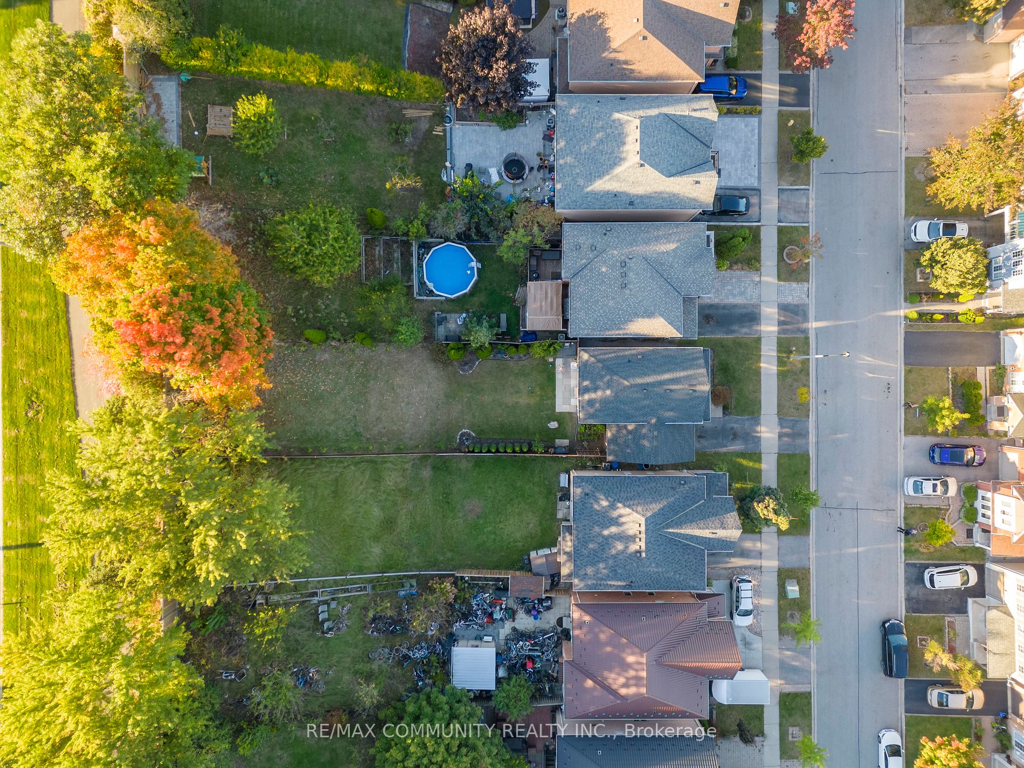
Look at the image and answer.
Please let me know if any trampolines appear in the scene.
Yes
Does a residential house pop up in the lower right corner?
Yes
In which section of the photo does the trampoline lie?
top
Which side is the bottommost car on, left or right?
right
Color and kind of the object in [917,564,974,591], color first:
white car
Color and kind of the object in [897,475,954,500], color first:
white car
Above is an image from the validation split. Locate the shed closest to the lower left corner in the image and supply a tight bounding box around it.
[451,639,496,690]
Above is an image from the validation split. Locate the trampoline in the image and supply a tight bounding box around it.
[501,148,530,184]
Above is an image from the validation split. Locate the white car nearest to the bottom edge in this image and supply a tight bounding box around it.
[873,725,902,768]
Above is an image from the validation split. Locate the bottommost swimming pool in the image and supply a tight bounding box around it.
[423,243,487,297]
